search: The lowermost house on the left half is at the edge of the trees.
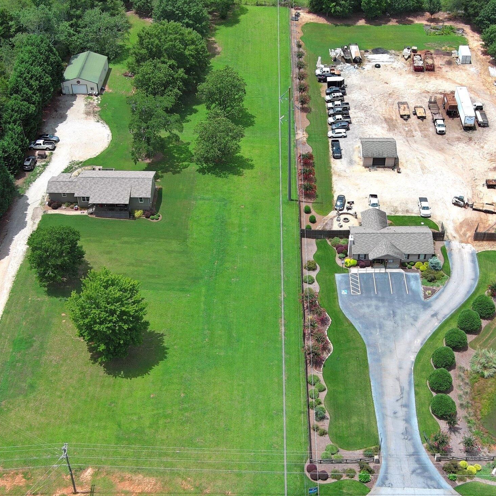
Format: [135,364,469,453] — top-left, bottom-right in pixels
[46,171,156,216]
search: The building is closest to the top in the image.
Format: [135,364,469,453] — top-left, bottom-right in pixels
[60,51,108,94]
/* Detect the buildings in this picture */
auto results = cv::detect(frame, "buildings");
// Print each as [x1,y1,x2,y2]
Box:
[347,205,434,268]
[60,51,108,94]
[359,138,398,166]
[46,171,156,216]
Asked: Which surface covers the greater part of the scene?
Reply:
grass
